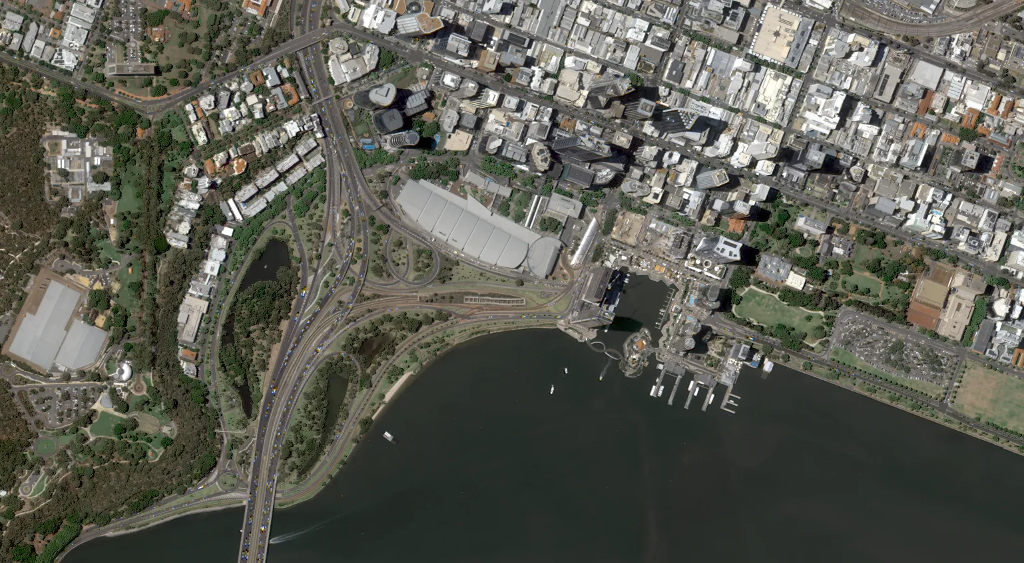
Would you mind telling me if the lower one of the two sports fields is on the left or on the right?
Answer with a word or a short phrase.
right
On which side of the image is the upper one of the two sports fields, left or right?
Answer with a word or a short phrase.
right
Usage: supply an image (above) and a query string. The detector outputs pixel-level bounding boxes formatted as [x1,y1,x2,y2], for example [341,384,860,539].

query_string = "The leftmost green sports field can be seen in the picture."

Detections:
[734,288,829,344]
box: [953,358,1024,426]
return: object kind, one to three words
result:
sports field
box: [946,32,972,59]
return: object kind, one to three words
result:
building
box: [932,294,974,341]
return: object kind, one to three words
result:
building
